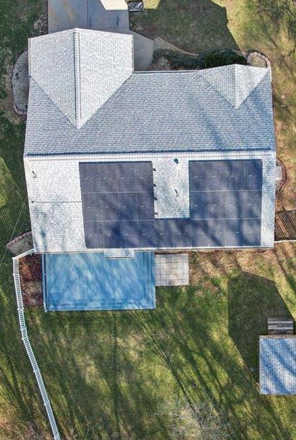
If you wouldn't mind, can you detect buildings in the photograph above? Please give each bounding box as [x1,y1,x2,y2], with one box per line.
[258,318,296,395]
[24,28,276,259]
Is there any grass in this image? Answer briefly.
Yes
